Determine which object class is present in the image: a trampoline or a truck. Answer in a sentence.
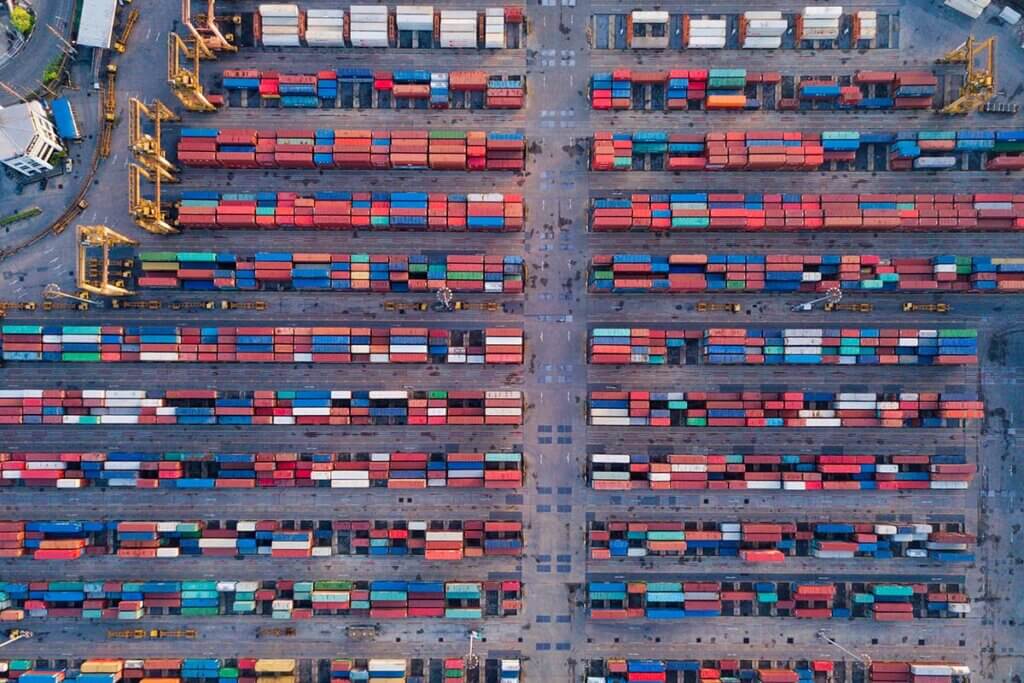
Visible in the photo is a truck.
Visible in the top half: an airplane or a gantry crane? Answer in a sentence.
You can see a gantry crane in the top half.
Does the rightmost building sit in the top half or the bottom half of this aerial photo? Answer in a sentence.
The rightmost building sits in the top half of the picture.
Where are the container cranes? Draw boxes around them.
[940,37,997,112]
[183,0,238,53]
[77,224,138,296]
[129,97,181,172]
[168,33,218,111]
[129,163,181,235]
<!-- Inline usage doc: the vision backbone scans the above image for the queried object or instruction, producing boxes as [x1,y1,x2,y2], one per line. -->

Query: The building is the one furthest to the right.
[995,7,1021,27]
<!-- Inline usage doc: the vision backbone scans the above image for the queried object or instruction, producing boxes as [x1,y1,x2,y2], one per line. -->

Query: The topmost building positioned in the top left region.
[77,0,119,49]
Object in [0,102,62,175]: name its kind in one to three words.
building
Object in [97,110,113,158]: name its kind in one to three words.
vehicle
